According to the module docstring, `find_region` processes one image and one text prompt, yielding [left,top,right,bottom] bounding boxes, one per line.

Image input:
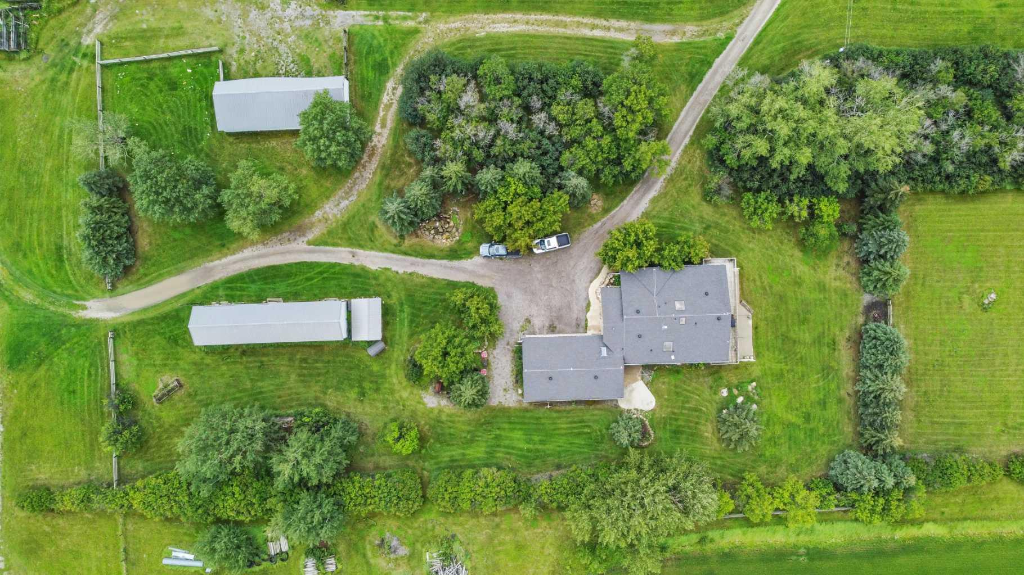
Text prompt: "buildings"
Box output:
[188,297,349,345]
[213,77,350,134]
[514,264,731,407]
[351,296,384,341]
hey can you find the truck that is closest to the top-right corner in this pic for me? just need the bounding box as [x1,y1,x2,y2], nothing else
[532,232,572,253]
